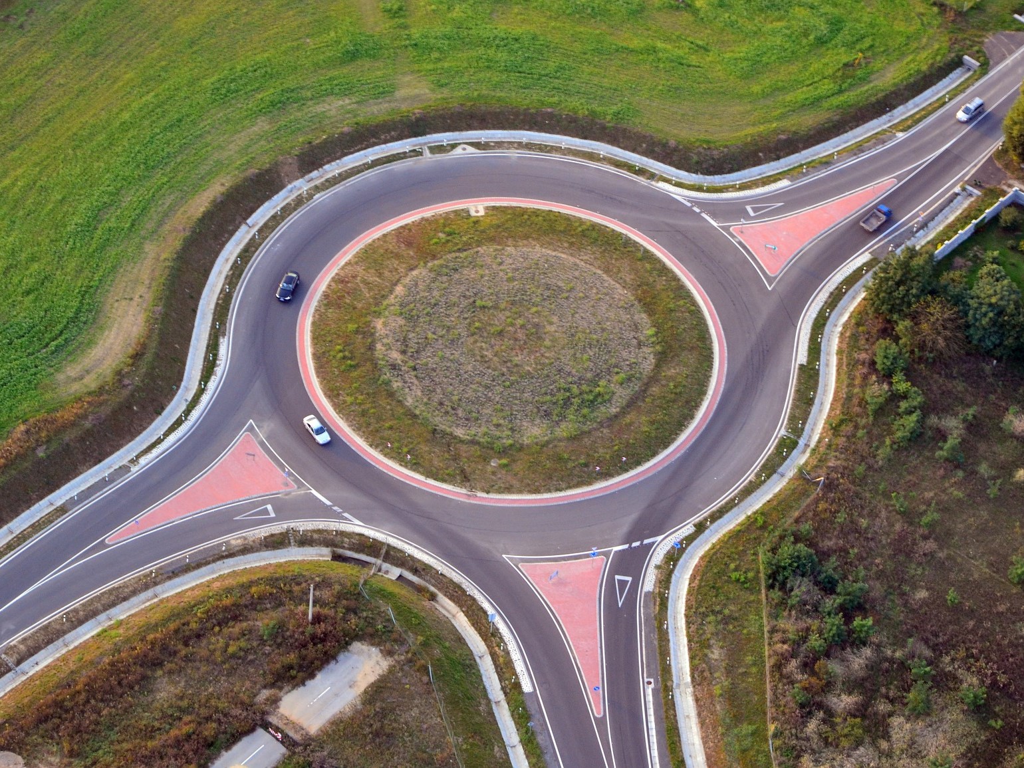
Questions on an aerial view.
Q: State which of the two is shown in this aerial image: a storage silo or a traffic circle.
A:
traffic circle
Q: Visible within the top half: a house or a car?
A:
car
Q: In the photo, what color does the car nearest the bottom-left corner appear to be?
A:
white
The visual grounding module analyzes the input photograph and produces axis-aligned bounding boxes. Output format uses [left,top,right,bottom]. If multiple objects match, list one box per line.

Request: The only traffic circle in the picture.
[244,165,778,548]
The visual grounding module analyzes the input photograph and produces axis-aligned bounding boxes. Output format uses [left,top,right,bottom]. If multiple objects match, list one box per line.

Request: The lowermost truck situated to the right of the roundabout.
[859,205,893,232]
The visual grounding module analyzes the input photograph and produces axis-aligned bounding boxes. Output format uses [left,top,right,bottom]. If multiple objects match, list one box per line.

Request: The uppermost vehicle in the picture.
[956,97,984,122]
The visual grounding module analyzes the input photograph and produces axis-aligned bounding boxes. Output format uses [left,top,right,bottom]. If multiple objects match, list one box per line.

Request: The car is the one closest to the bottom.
[302,414,331,444]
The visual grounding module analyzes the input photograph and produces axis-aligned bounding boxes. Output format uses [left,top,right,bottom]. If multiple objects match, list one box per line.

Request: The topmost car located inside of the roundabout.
[276,271,299,298]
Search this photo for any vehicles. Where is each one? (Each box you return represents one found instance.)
[956,97,984,122]
[276,271,299,298]
[302,414,331,444]
[859,205,893,232]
